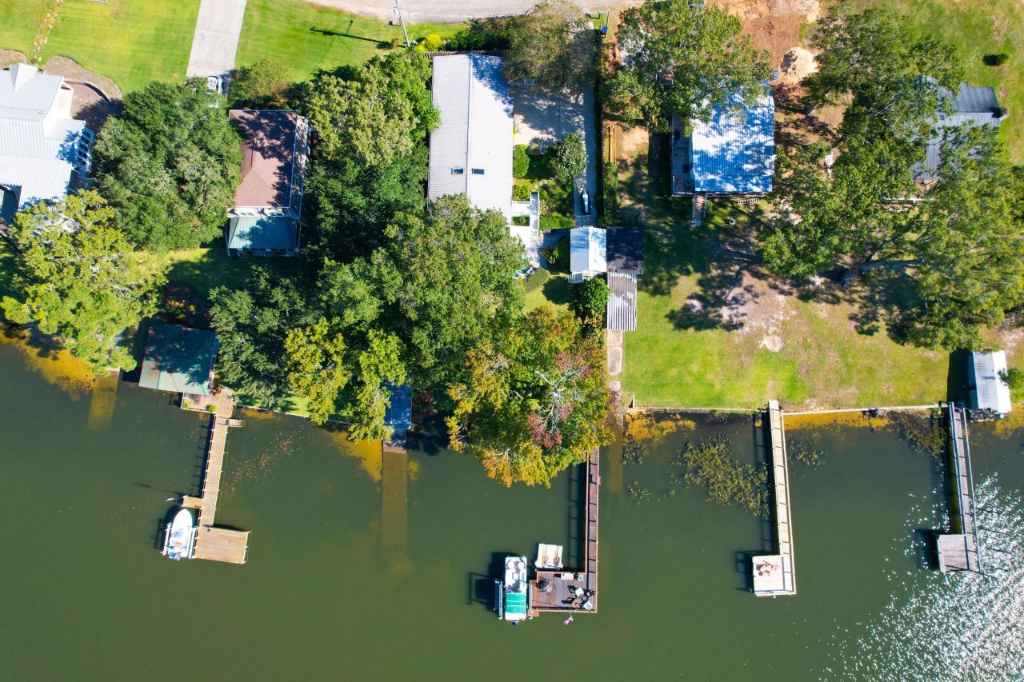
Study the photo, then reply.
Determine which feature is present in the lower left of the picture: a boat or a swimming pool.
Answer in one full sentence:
What appears in the lower left of the picture is a boat.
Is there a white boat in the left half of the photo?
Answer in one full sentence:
Yes, a white boat appears in the left half of the photo.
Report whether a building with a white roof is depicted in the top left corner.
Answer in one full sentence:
Yes, a building with a white roof shows up in the top left corner.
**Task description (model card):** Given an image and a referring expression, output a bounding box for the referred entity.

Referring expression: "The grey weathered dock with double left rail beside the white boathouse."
[931,403,985,576]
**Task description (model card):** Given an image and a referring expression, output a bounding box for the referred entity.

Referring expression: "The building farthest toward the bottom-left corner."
[140,323,219,413]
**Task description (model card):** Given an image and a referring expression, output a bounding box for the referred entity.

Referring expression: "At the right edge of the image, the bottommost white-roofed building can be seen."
[964,350,1012,413]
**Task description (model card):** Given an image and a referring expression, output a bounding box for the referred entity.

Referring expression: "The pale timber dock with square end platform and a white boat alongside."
[180,386,252,566]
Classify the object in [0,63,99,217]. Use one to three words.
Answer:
house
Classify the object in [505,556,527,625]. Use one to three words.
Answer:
boat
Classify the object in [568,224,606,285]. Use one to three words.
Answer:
shed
